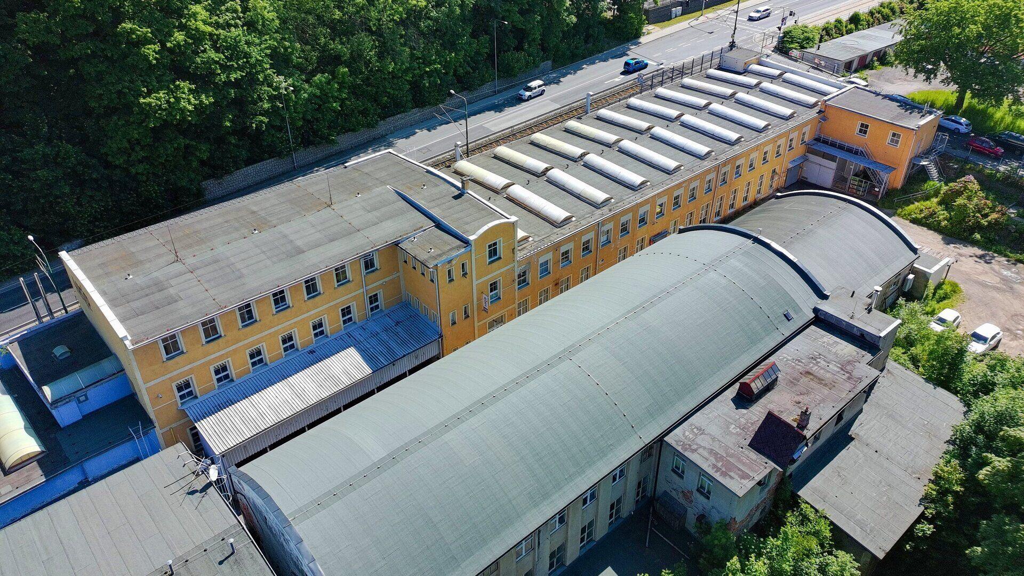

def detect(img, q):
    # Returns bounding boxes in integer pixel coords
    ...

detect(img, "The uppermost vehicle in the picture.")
[746,4,771,20]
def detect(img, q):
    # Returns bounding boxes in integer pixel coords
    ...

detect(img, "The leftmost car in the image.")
[517,78,548,99]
